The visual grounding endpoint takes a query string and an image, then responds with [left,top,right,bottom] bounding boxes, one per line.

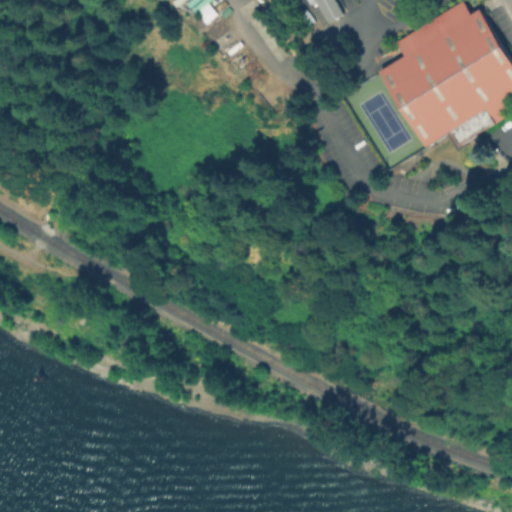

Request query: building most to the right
[378,2,512,147]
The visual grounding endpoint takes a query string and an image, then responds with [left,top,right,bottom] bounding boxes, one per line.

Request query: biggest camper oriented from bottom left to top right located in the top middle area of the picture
[228,42,245,55]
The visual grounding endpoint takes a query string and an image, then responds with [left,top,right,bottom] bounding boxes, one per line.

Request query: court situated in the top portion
[347,76,424,169]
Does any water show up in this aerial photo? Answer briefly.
Yes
